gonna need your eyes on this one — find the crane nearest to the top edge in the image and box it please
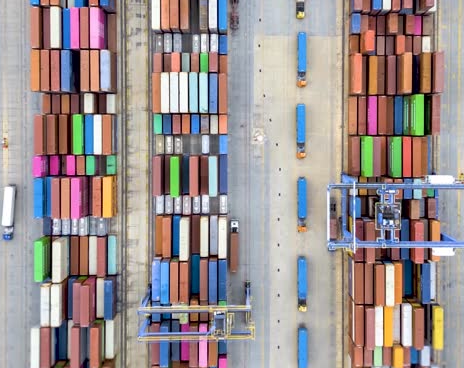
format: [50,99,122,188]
[325,164,464,262]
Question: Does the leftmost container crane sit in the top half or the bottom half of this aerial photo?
bottom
